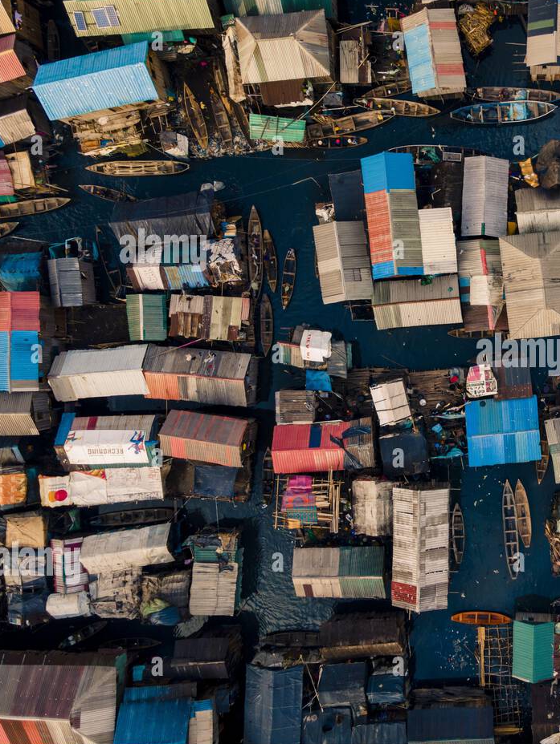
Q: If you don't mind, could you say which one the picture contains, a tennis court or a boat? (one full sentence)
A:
There is a boat in the scene.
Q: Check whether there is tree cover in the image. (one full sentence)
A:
No, tree cover can't be seen anywhere here.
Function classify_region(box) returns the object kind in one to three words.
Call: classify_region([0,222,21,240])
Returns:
boat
